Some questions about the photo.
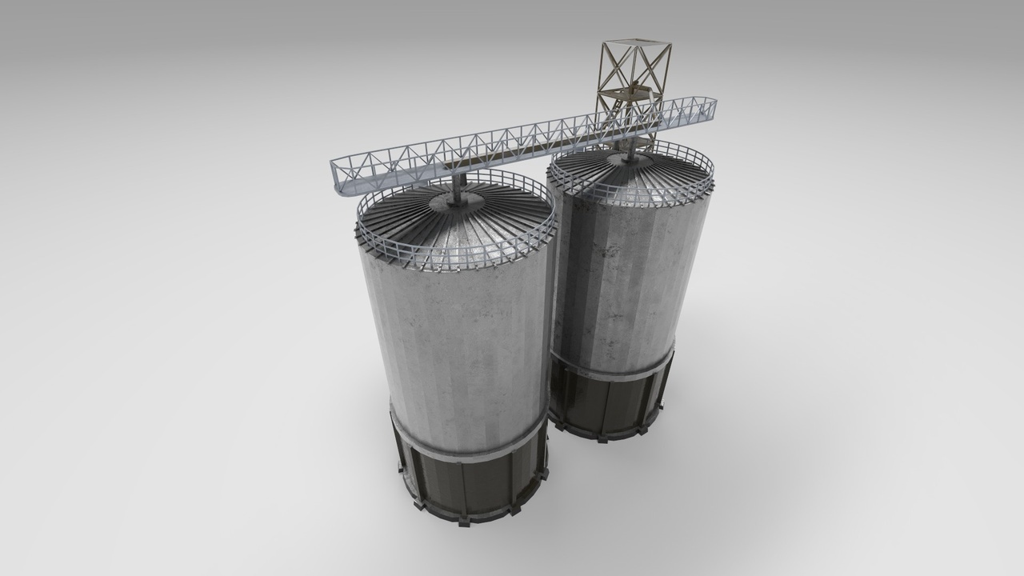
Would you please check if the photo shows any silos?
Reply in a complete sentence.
Yes, there's a silo down there.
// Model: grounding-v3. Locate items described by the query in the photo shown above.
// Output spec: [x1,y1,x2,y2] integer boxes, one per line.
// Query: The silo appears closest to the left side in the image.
[353,169,560,527]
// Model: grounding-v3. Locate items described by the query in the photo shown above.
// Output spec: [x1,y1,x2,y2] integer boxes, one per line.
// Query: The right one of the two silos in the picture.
[545,137,716,444]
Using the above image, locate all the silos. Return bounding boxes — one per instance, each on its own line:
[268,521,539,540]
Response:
[545,137,716,444]
[353,169,560,527]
